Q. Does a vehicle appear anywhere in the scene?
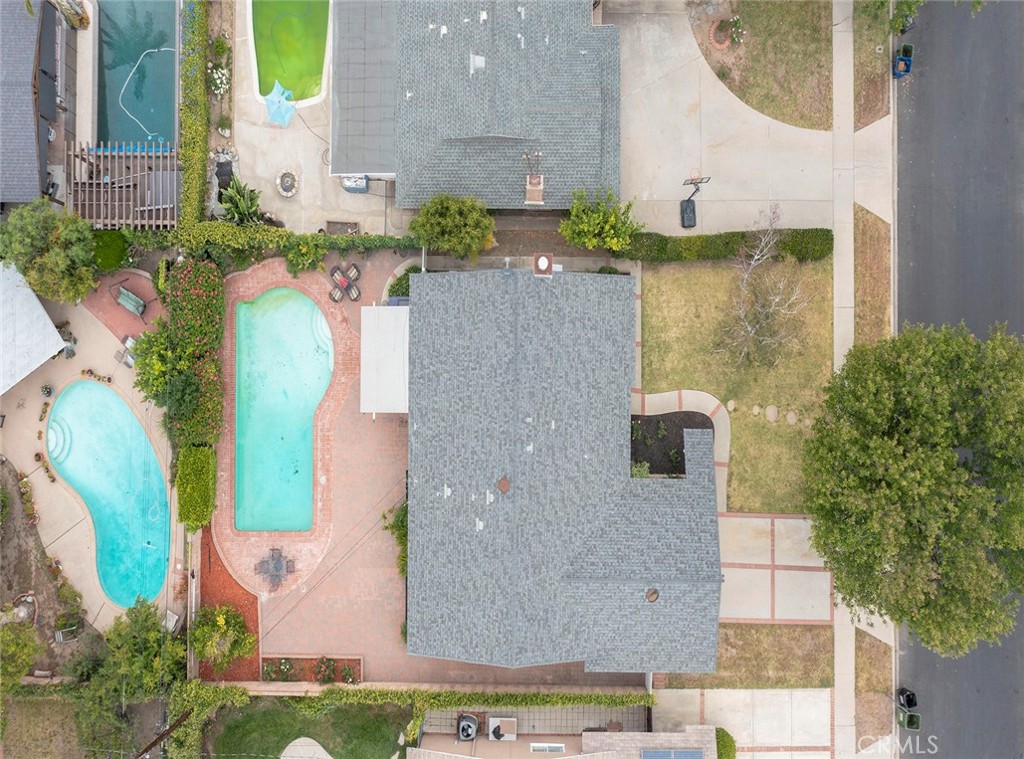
No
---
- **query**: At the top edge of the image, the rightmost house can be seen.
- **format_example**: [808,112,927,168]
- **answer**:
[329,0,620,214]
